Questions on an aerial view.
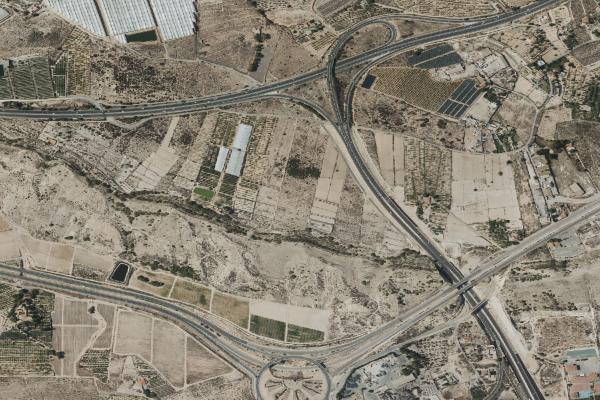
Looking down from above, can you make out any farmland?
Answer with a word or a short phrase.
Yes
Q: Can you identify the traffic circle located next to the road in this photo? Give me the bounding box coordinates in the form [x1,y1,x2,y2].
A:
[256,355,330,400]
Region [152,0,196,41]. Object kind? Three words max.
greenhouse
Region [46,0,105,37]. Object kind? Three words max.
greenhouse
